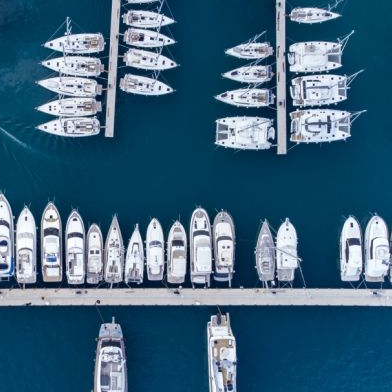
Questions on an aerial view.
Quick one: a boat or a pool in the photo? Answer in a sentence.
The image shows a boat.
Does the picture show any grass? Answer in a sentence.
No, no grass is visible.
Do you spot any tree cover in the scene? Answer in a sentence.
No, there's no tree cover in this view.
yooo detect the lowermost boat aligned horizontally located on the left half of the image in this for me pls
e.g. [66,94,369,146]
[34,114,106,139]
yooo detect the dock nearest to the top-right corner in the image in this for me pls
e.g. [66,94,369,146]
[274,0,287,155]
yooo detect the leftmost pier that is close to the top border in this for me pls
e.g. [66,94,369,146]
[105,0,119,138]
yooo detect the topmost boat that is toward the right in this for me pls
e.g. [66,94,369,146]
[282,0,351,26]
